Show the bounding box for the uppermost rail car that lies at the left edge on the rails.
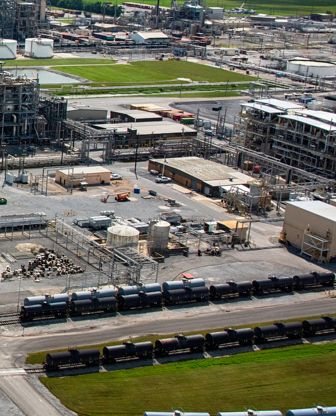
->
[16,293,71,320]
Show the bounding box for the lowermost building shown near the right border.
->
[280,199,336,266]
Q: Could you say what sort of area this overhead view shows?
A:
industrial area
